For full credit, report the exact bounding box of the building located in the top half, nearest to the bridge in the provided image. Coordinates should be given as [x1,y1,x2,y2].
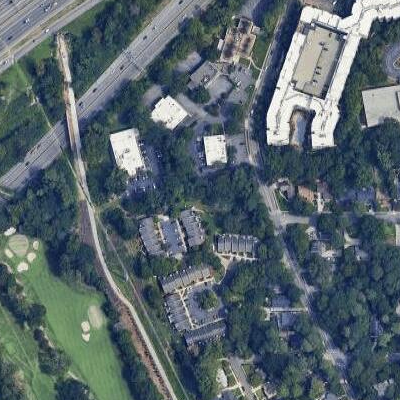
[110,128,144,176]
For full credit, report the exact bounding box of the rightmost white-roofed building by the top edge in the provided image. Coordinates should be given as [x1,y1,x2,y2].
[265,0,400,147]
